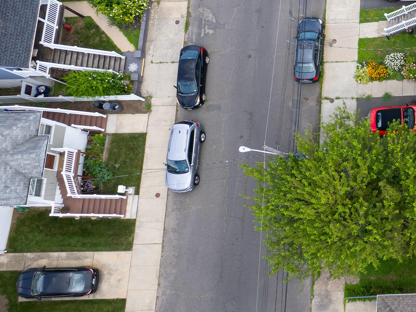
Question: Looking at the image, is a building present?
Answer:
Yes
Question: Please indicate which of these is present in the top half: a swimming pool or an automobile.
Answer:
automobile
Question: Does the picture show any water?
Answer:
No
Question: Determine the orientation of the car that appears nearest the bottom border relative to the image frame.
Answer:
from side to side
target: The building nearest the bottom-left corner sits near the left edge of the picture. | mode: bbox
[0,105,126,253]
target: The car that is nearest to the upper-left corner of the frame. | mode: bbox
[173,46,213,113]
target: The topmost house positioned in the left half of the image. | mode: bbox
[0,0,127,94]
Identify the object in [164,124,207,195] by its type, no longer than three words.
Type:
car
